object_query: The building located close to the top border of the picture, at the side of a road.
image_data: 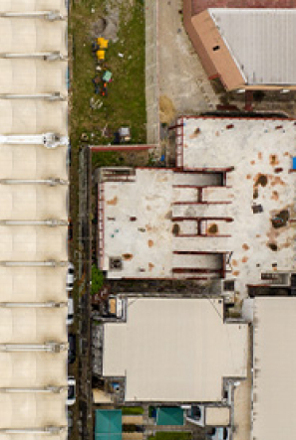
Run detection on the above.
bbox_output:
[179,7,296,94]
